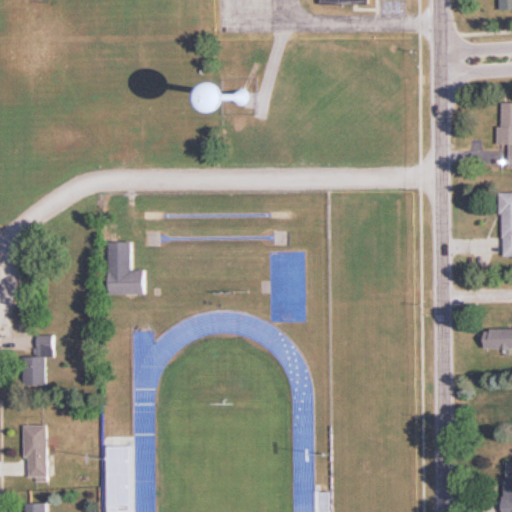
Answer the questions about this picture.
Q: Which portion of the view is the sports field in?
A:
bottom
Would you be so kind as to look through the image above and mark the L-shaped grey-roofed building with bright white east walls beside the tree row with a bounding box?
[107,242,146,296]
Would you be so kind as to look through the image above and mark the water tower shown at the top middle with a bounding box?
[190,80,250,112]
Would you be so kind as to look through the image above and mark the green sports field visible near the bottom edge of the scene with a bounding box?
[156,332,294,512]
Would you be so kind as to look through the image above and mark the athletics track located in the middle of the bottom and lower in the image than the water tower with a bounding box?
[132,310,316,512]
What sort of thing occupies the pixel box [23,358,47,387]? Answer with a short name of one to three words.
house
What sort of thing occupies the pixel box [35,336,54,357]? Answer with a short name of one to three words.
building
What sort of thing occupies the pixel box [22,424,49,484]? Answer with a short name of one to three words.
house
